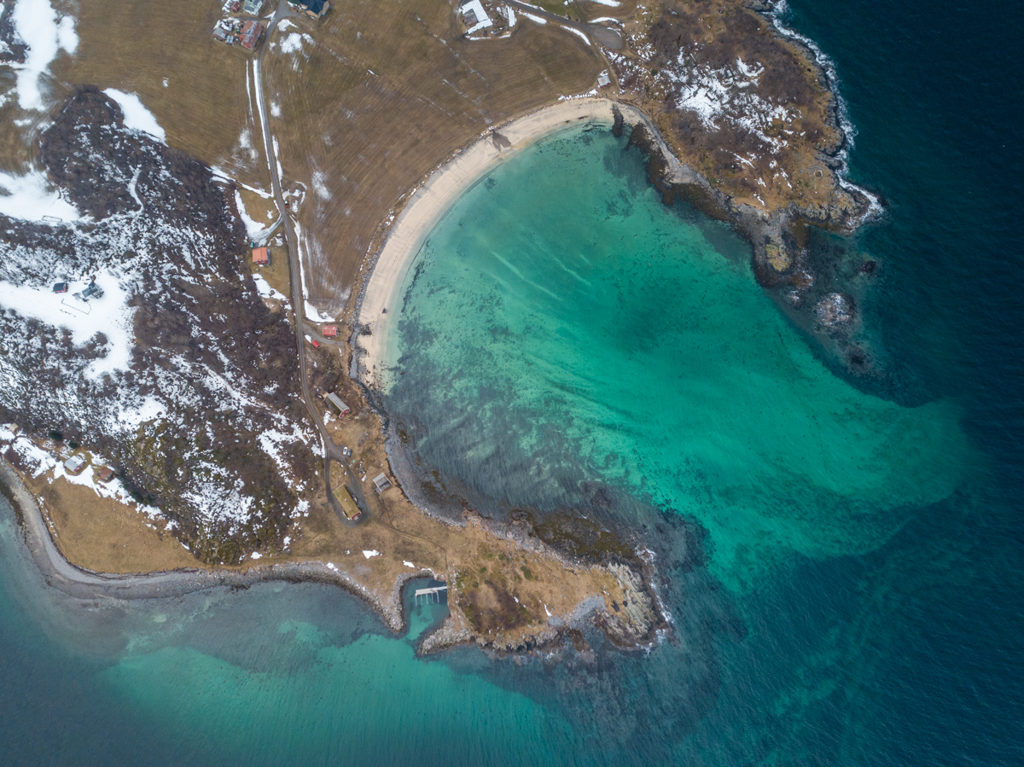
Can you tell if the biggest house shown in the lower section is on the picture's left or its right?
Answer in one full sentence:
It is on the left.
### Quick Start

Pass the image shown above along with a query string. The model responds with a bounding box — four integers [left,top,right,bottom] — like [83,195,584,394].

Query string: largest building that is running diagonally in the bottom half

[334,485,362,519]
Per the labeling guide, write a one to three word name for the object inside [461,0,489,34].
barn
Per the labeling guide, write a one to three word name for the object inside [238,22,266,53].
barn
